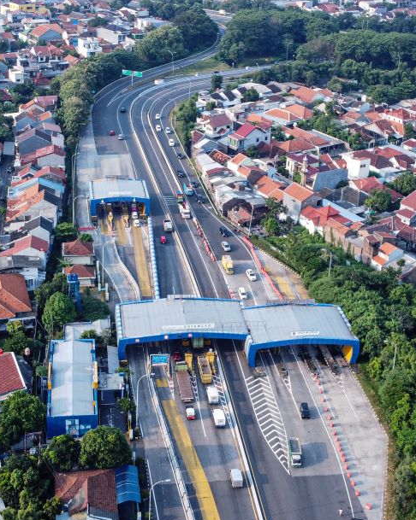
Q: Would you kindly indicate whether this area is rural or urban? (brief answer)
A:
urban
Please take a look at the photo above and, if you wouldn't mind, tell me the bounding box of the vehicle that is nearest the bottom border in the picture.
[228,464,246,493]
